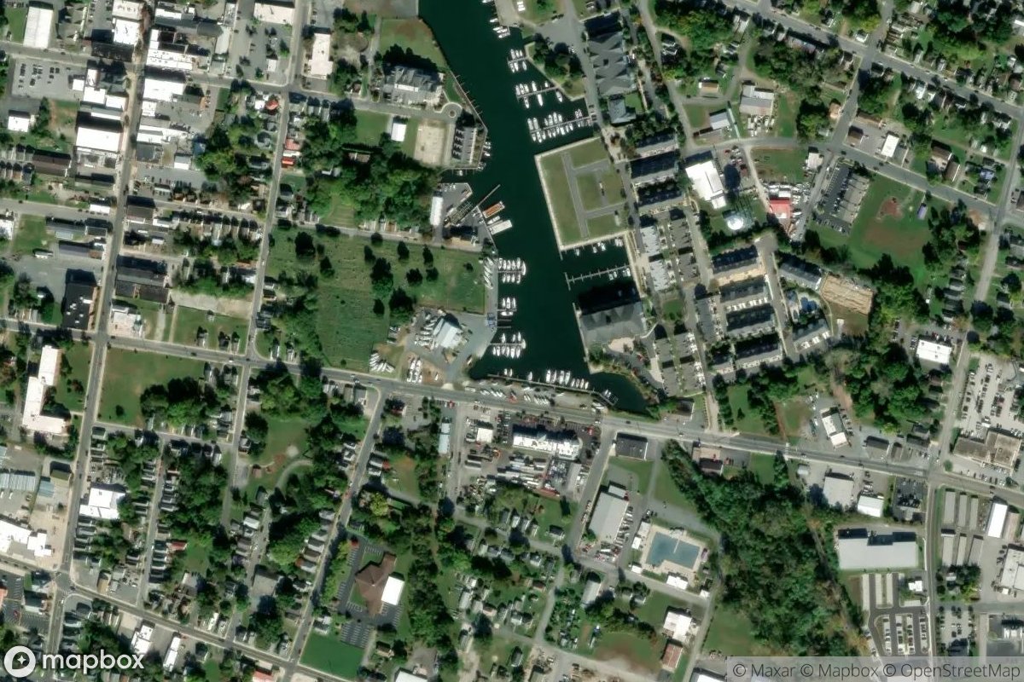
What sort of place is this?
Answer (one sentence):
It's a residential area.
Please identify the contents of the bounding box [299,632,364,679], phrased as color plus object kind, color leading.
green sports field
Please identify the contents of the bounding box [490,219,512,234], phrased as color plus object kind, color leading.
white ship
